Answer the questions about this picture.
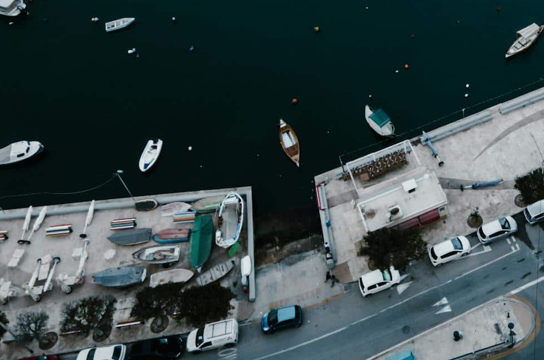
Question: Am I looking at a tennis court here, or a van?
van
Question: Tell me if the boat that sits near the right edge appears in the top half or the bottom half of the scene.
top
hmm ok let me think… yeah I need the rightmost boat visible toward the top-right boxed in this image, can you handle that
[506,20,544,57]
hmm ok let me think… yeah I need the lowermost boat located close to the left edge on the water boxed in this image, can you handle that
[0,141,43,165]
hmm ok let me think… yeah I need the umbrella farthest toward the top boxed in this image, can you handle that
[422,133,444,167]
